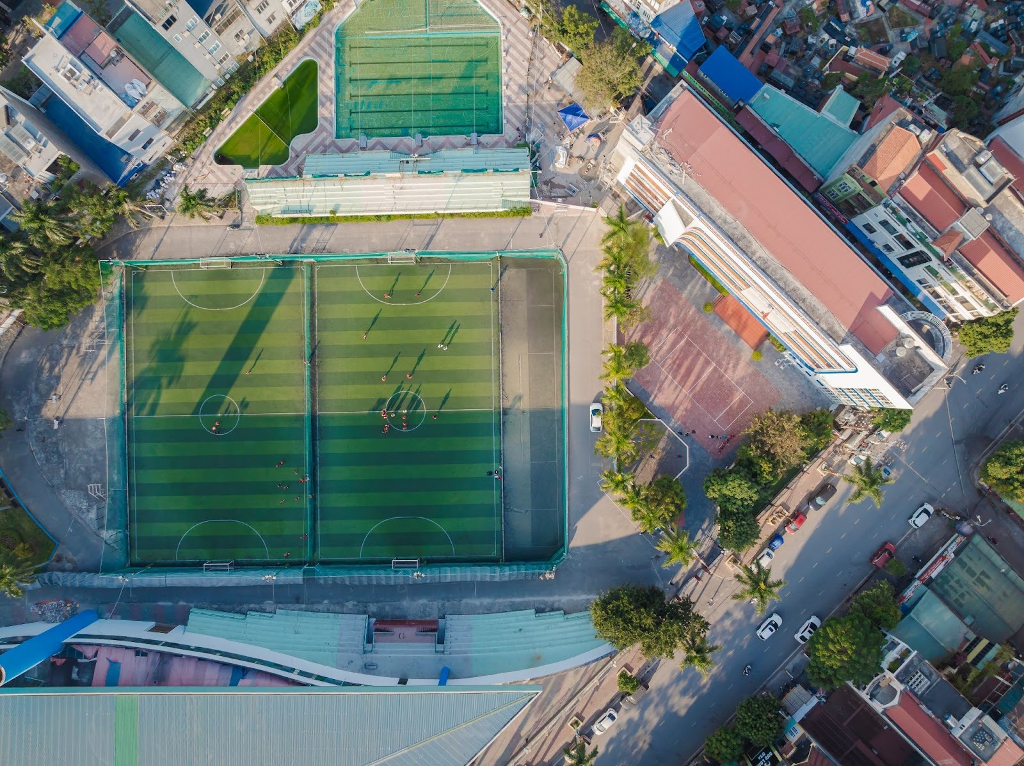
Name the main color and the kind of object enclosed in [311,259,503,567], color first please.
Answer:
green soccer field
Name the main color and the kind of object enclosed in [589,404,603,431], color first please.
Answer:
white car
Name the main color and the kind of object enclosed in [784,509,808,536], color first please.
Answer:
red car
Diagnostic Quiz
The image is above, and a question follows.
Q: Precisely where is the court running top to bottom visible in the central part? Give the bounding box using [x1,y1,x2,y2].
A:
[503,259,566,566]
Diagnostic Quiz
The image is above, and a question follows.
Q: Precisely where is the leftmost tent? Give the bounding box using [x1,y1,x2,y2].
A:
[556,106,590,136]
